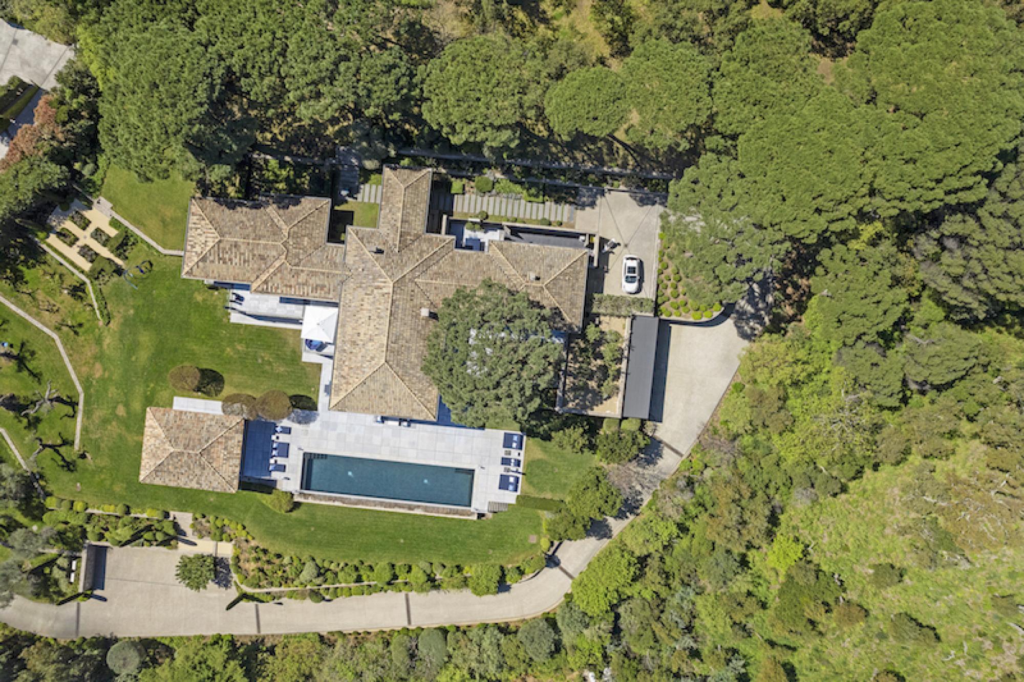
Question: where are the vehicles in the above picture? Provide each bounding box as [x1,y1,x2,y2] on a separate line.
[603,239,615,250]
[624,256,643,293]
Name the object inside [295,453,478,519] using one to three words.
swimming pool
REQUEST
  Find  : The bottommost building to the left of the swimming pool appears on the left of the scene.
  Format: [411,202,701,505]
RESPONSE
[139,407,250,493]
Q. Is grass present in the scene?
Yes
